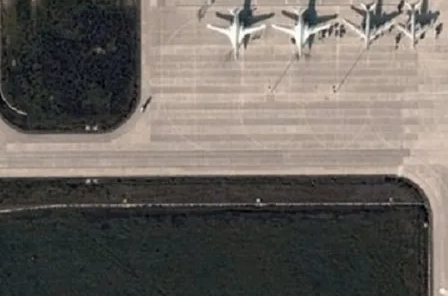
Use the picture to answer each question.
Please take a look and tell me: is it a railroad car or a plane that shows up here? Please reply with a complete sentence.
Looking from above, you can make out a plane.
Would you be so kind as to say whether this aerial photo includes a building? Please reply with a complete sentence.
No, there is no building in the image.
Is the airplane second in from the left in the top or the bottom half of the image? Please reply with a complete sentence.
Seen from above, the airplane second in from the left lies in the top half of the view.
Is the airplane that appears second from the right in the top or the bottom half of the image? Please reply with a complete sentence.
You can find the airplane that appears second from the right in the top half.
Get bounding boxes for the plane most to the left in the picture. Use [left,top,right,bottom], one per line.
[207,4,265,60]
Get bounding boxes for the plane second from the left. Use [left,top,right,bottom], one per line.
[272,4,329,60]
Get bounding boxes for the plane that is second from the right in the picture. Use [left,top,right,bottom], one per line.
[341,0,393,51]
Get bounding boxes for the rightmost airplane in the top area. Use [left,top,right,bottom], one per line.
[395,0,432,50]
